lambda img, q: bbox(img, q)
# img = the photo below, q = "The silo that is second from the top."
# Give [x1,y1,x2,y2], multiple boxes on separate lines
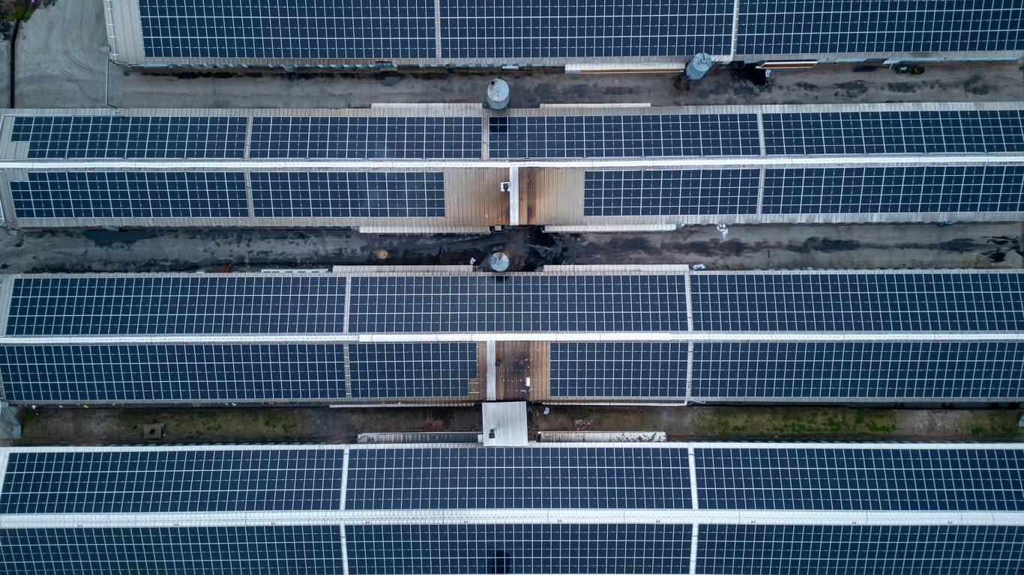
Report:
[485,79,510,112]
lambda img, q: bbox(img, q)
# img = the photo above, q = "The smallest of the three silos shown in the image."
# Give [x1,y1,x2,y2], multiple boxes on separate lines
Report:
[489,252,510,272]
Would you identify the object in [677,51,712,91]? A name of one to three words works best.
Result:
silo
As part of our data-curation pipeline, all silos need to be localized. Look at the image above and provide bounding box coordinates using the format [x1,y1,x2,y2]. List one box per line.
[489,252,510,272]
[677,51,712,91]
[485,79,510,112]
